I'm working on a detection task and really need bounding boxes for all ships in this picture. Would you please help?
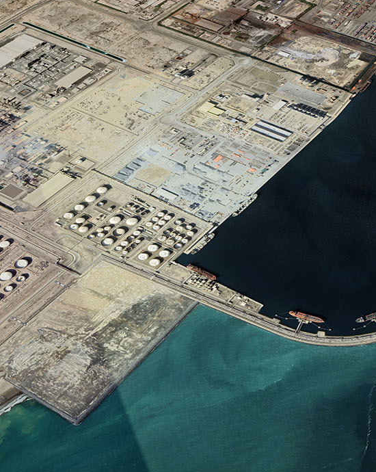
[355,312,376,322]
[190,232,215,255]
[231,193,258,217]
[360,80,373,93]
[288,309,324,323]
[188,262,217,280]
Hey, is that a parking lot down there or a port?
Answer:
port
